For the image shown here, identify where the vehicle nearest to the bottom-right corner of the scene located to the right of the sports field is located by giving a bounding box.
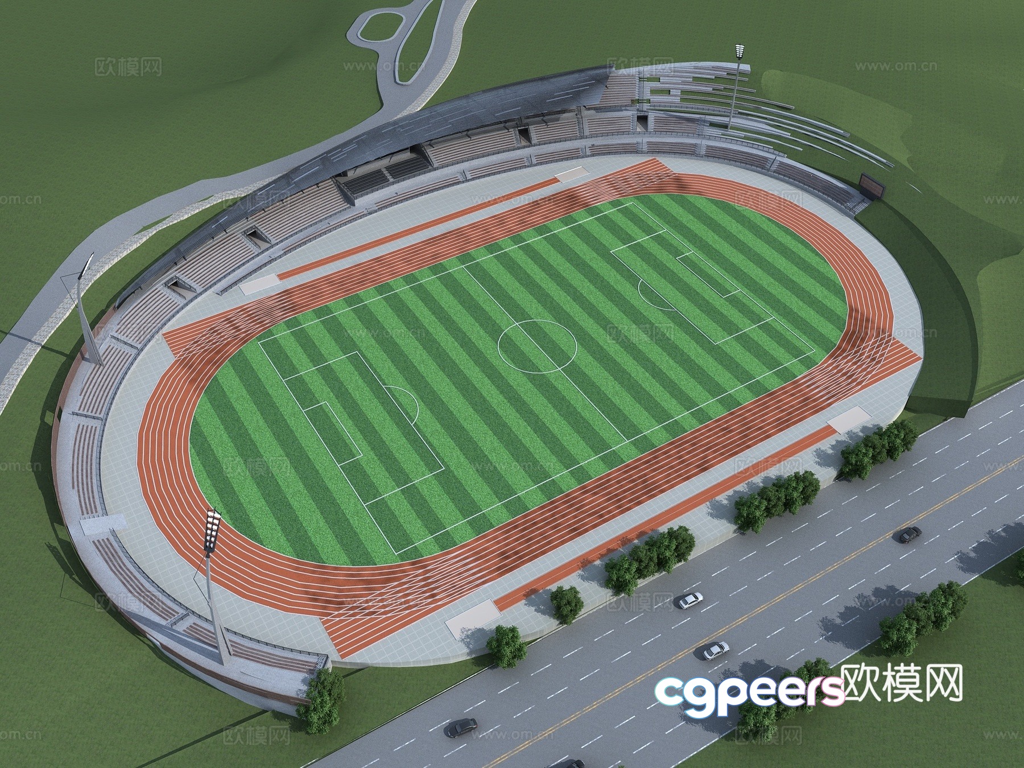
[900,527,926,545]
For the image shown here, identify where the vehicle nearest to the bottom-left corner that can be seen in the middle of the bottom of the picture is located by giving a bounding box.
[444,719,477,742]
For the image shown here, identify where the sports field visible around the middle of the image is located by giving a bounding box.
[190,195,847,566]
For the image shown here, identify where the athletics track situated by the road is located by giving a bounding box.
[137,173,893,614]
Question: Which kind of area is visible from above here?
sports ground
